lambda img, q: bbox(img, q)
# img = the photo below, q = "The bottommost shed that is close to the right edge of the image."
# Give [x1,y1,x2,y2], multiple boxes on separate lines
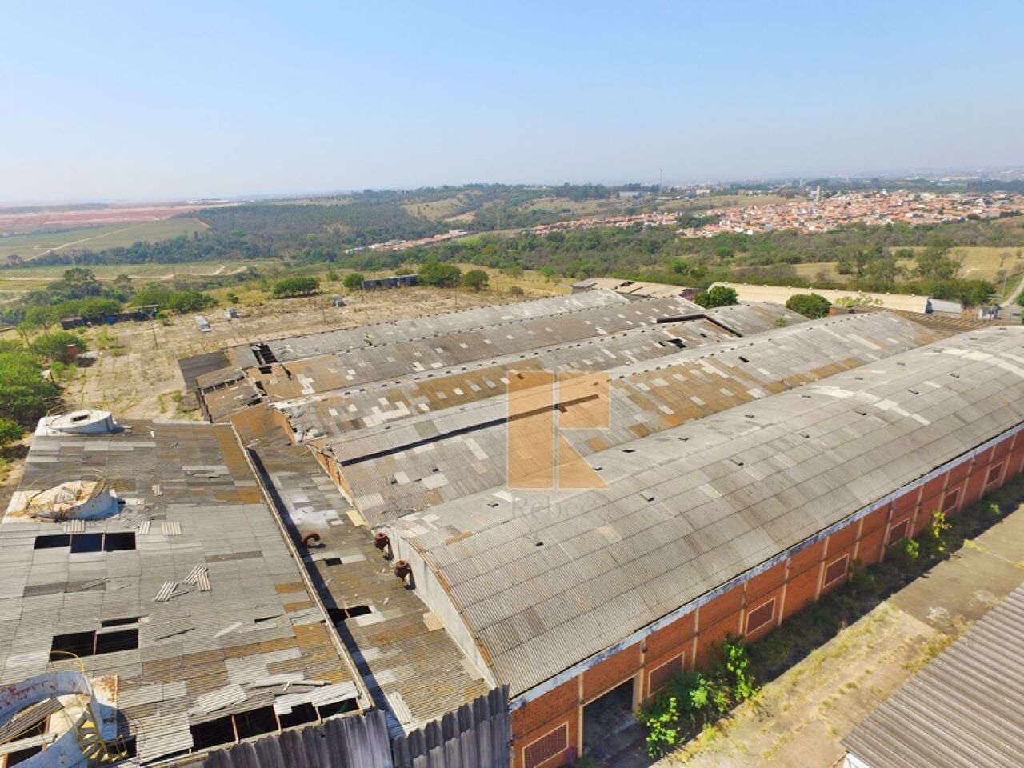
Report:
[842,588,1024,768]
